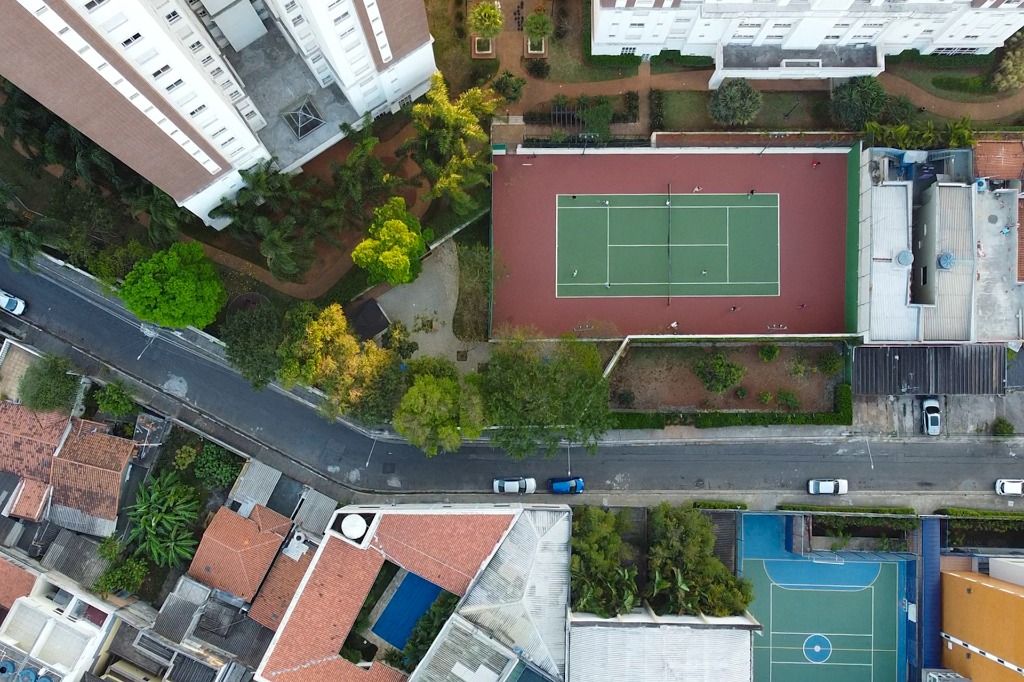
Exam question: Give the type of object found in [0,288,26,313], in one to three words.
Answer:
car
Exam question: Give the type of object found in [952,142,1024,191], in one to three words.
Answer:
house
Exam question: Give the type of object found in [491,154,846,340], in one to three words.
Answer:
tennis court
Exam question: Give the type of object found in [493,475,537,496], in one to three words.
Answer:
car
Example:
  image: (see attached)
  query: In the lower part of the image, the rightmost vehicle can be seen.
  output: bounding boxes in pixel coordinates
[993,477,1024,497]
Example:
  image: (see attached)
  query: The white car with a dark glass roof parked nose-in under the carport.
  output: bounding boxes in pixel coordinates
[921,399,944,436]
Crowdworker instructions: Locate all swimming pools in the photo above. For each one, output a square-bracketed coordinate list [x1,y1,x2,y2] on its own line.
[366,571,447,653]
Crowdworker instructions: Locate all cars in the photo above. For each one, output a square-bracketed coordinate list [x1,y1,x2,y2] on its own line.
[993,477,1024,497]
[807,477,847,497]
[493,475,537,496]
[921,399,944,436]
[548,476,585,496]
[0,288,26,313]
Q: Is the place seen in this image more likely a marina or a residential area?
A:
residential area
